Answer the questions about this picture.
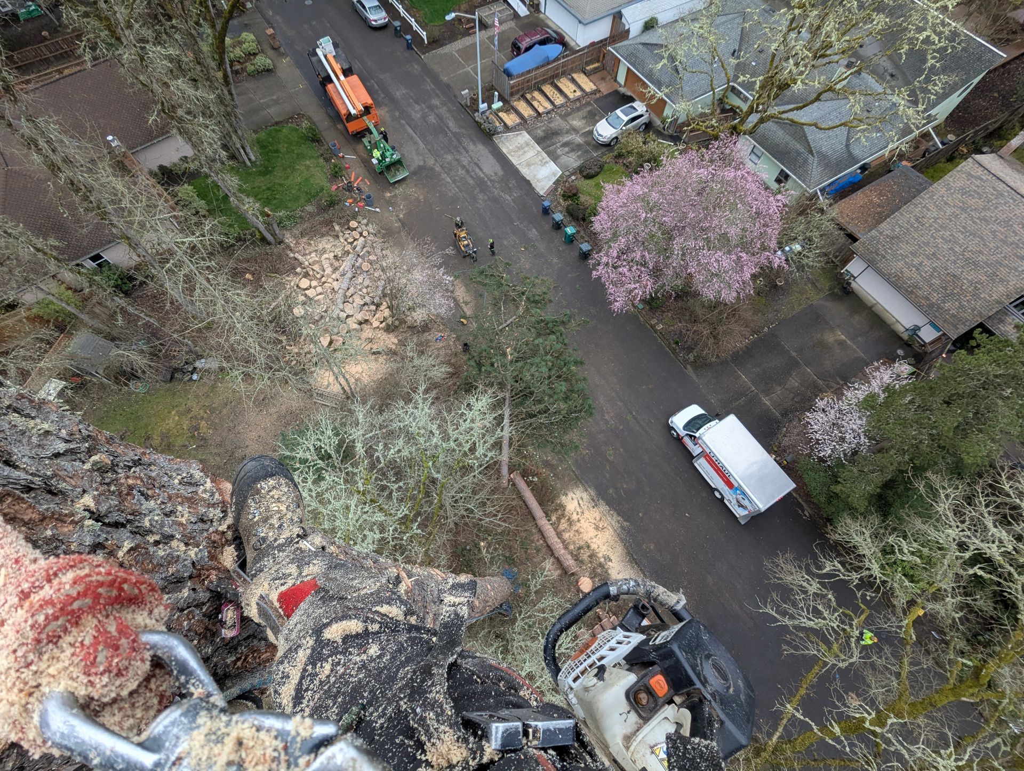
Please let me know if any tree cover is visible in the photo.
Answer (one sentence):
Yes, there is tree cover in the image.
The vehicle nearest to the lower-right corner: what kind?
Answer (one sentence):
The vehicle nearest to the lower-right corner is a truck.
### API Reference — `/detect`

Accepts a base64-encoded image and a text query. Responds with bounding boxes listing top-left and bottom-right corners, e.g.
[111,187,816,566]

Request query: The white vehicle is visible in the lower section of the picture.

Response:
[666,407,793,527]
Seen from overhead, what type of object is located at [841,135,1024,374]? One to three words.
house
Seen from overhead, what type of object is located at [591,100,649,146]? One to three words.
car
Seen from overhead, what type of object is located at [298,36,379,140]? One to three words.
truck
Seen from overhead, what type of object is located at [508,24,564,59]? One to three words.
vehicle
